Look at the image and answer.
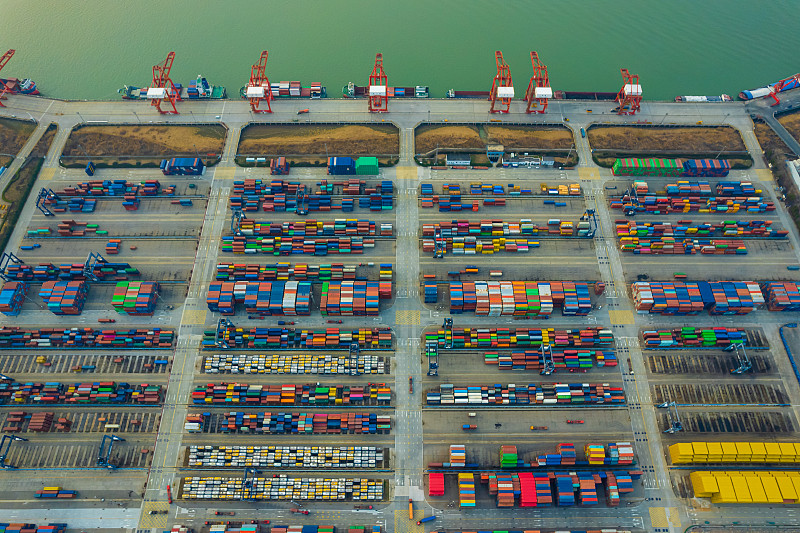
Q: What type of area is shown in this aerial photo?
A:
port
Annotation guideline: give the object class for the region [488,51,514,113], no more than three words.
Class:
container crane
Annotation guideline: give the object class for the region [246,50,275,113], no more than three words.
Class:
container crane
